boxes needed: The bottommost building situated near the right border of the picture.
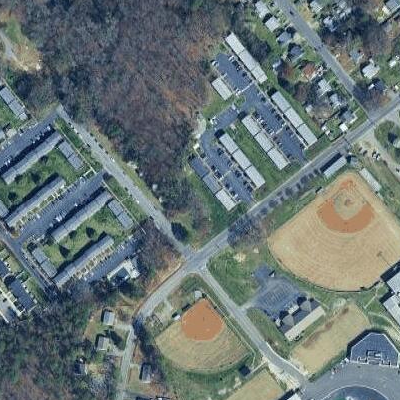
[350,333,400,368]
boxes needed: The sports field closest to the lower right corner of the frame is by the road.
[290,302,369,376]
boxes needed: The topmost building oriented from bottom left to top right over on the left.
[1,129,63,183]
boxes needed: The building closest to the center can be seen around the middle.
[189,154,235,211]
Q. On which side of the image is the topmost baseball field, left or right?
right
